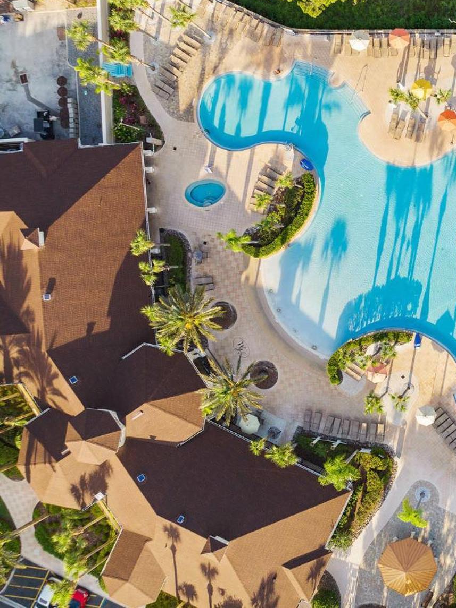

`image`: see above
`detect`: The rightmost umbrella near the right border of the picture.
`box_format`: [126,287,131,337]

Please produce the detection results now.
[438,110,456,130]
